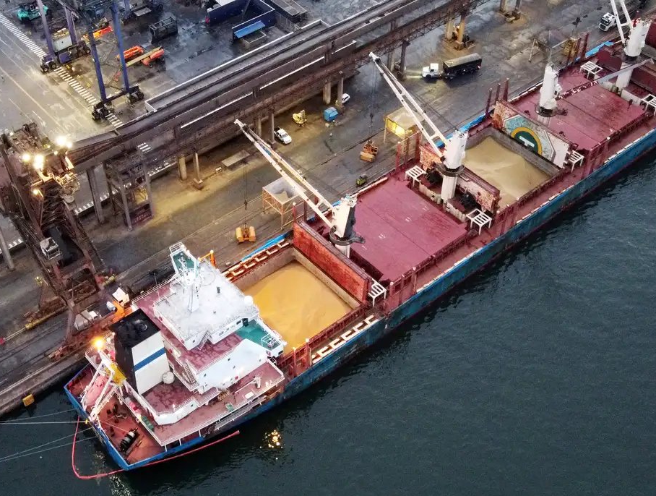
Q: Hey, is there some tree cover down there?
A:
No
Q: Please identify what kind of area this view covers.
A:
port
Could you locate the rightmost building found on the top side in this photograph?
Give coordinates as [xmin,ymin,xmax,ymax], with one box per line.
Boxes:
[264,0,310,28]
